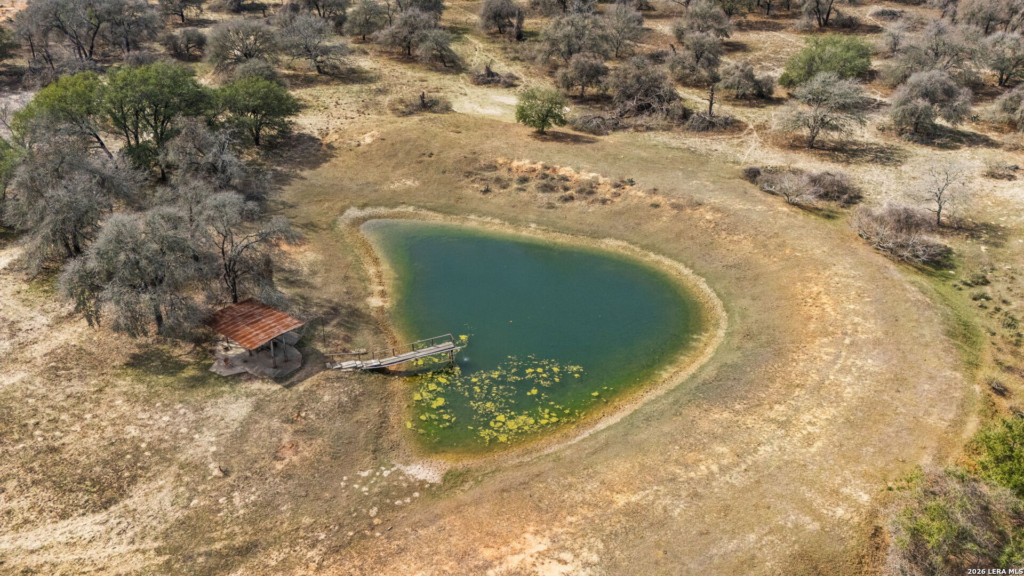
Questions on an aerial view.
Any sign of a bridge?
No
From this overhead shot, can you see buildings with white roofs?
No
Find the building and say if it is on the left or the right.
left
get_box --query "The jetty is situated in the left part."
[324,333,461,372]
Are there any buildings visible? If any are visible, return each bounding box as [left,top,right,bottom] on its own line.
[205,297,305,368]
